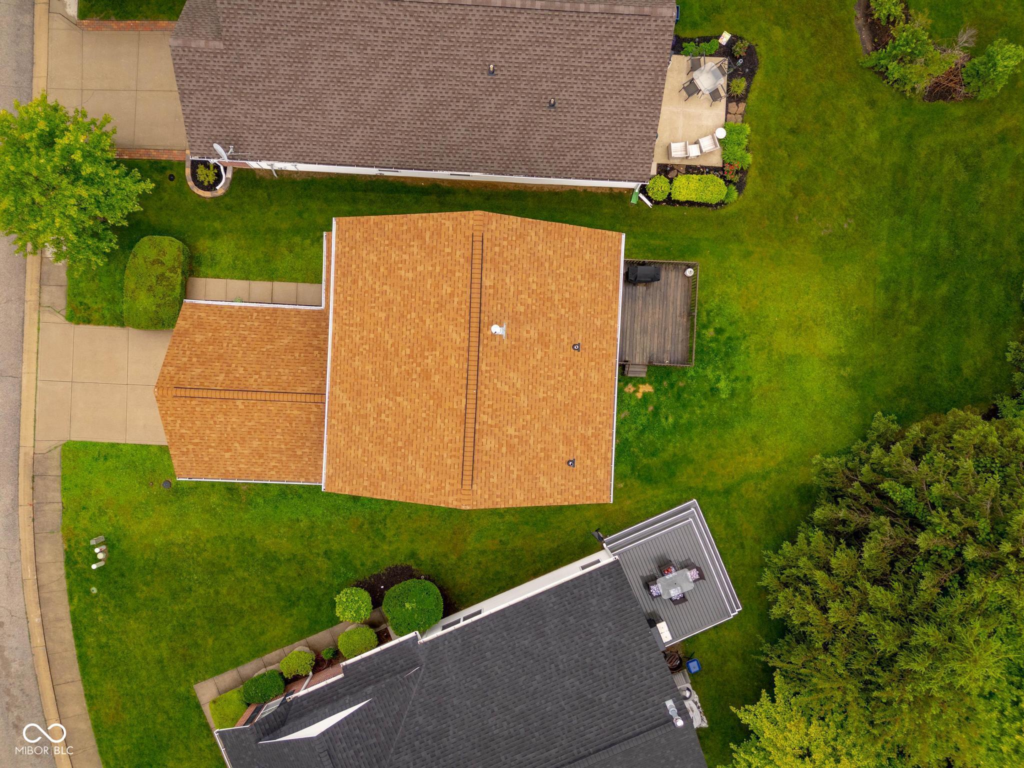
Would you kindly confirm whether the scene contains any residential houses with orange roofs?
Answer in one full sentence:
Yes, the frame does contain a residential house with an orange roof.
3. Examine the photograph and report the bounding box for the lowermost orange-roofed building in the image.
[156,210,626,509]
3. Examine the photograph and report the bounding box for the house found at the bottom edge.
[212,535,712,768]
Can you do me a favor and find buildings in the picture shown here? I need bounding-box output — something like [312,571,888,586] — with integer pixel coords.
[169,0,675,201]
[212,535,712,768]
[156,210,626,509]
